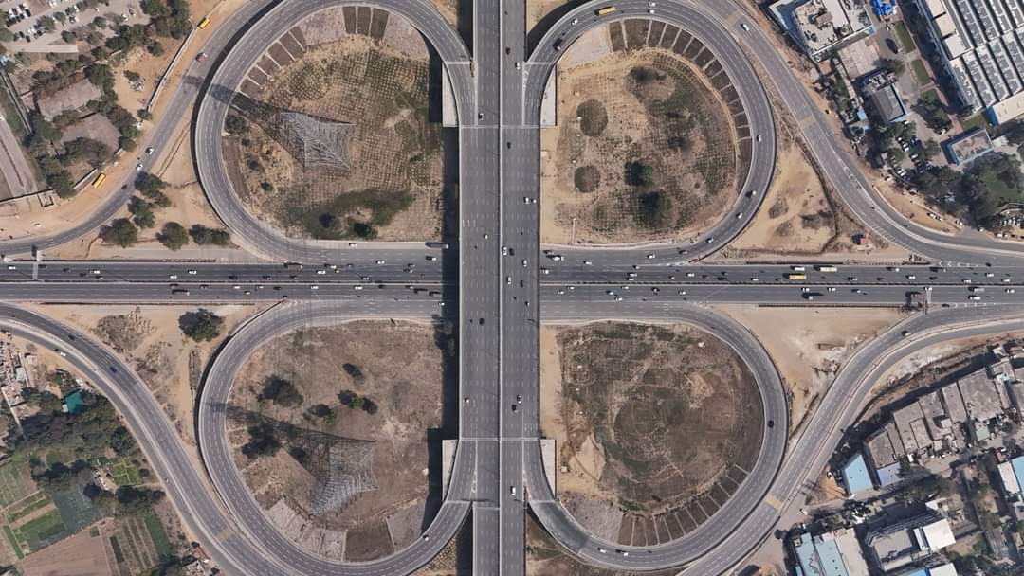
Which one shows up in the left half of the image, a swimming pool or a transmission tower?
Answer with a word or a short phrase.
transmission tower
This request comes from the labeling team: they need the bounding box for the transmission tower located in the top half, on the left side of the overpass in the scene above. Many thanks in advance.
[274,110,356,169]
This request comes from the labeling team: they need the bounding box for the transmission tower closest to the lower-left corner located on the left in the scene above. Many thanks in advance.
[303,441,378,510]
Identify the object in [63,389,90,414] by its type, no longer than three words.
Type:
shed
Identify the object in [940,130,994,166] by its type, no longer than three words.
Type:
house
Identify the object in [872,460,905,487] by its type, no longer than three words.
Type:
shed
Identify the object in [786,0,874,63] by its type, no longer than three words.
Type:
building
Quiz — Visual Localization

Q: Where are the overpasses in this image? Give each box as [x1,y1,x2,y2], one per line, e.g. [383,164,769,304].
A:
[443,0,556,576]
